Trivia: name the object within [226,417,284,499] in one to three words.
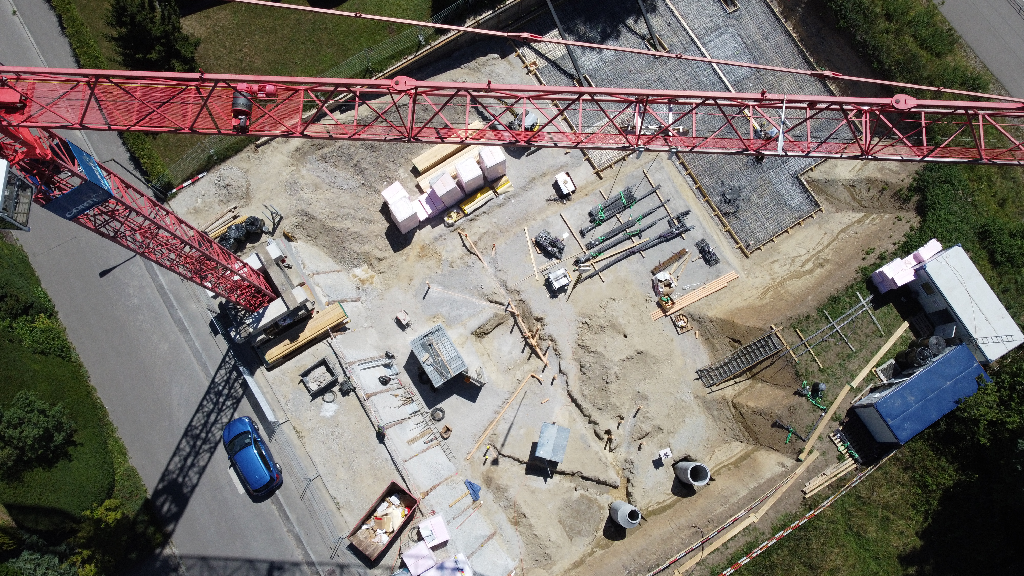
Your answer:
car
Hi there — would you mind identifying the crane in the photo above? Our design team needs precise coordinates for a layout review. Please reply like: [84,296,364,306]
[0,0,1024,311]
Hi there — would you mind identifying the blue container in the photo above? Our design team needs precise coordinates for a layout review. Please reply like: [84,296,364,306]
[851,342,995,445]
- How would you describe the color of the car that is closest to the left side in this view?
blue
